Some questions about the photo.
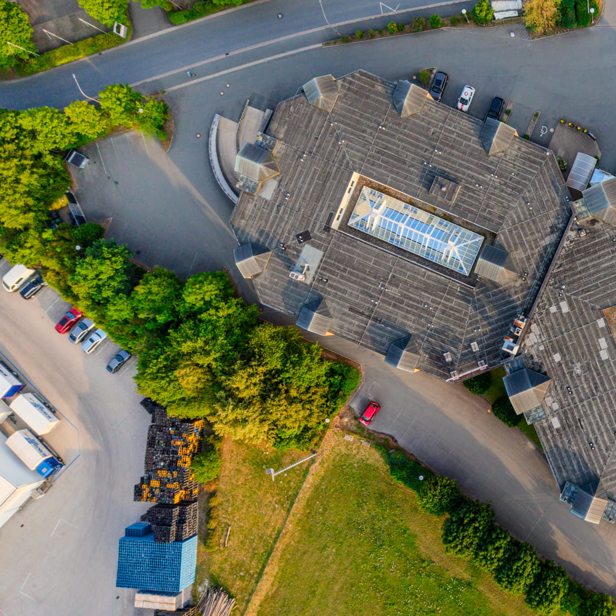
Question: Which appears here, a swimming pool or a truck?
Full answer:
Of the two, only a truck appears.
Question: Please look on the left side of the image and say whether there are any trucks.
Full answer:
Yes, on the left side of the image there is a truck.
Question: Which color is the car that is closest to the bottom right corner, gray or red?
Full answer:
In this view, the car that is closest to the bottom right corner is red.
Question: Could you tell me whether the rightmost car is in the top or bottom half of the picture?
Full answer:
It is in the top half that the rightmost car appears.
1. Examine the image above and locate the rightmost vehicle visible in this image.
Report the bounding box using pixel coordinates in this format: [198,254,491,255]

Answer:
[482,94,504,120]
